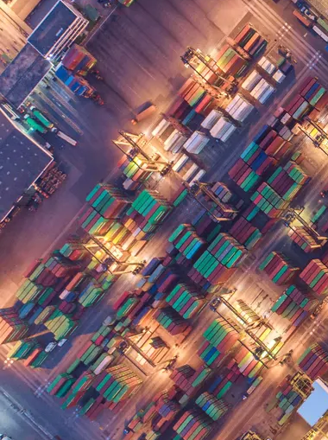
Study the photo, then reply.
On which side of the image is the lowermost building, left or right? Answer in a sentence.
The lowermost building appears in the left half of the scene.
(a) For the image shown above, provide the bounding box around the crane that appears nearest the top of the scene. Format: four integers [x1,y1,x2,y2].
[187,51,244,97]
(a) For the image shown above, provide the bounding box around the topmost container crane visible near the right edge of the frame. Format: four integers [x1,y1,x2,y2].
[296,119,328,157]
